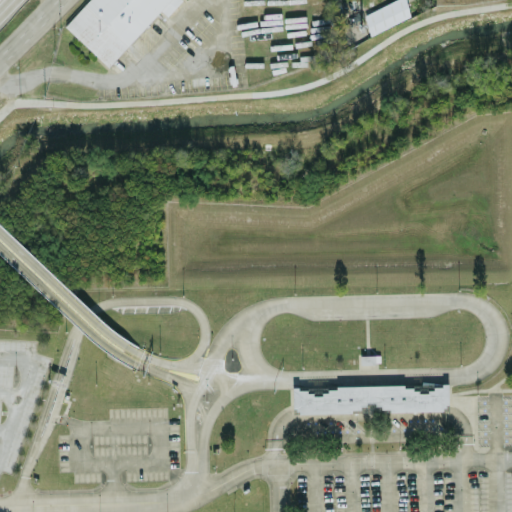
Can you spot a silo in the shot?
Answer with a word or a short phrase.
No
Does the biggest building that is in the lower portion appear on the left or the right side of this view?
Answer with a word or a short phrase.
right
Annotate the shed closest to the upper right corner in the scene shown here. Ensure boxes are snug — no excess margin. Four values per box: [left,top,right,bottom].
[366,0,412,37]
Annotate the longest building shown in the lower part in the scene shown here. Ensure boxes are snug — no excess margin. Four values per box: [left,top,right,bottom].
[294,384,451,418]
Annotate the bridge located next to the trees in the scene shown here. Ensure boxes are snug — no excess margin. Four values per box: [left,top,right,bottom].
[0,228,156,373]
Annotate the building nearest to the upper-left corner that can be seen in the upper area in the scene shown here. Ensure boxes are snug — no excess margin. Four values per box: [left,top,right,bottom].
[66,0,186,68]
